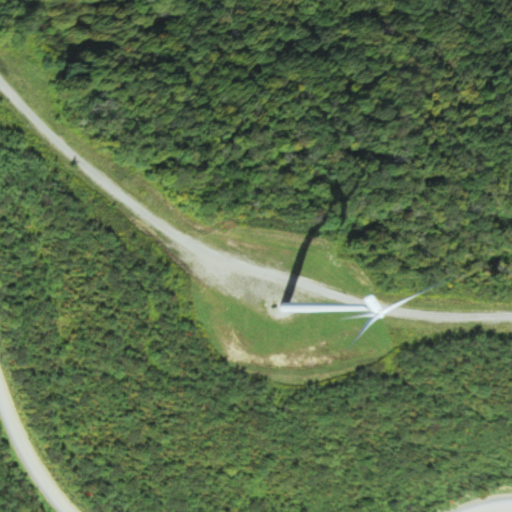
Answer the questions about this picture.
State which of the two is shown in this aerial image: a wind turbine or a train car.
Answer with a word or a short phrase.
wind turbine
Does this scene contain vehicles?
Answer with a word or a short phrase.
No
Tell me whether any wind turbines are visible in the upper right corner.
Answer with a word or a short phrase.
No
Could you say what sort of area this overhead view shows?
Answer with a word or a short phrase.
forest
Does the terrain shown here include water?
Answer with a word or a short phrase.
No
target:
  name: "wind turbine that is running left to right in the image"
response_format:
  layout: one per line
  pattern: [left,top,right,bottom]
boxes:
[276,278,450,350]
